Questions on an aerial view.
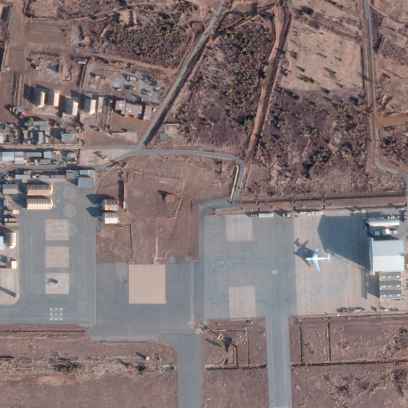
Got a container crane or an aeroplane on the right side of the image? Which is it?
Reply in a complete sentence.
Visible on the right side of the image is an aeroplane.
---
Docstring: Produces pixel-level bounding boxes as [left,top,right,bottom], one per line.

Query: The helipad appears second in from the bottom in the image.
[46,272,68,294]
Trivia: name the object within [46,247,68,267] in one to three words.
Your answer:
helipad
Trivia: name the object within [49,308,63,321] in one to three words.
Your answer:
helipad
